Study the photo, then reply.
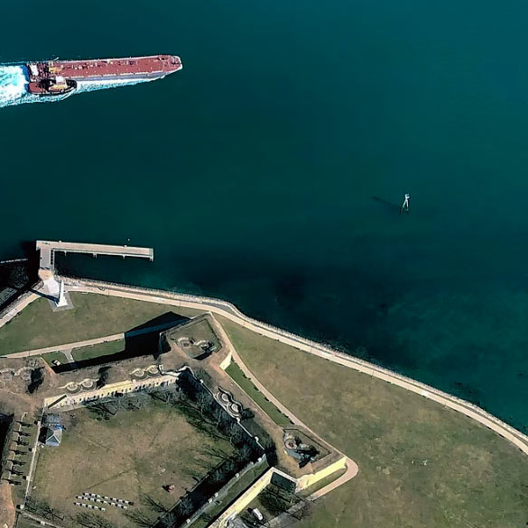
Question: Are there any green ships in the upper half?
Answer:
No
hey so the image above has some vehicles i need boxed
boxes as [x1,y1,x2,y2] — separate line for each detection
[249,519,261,527]
[252,507,263,519]
[52,359,62,365]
